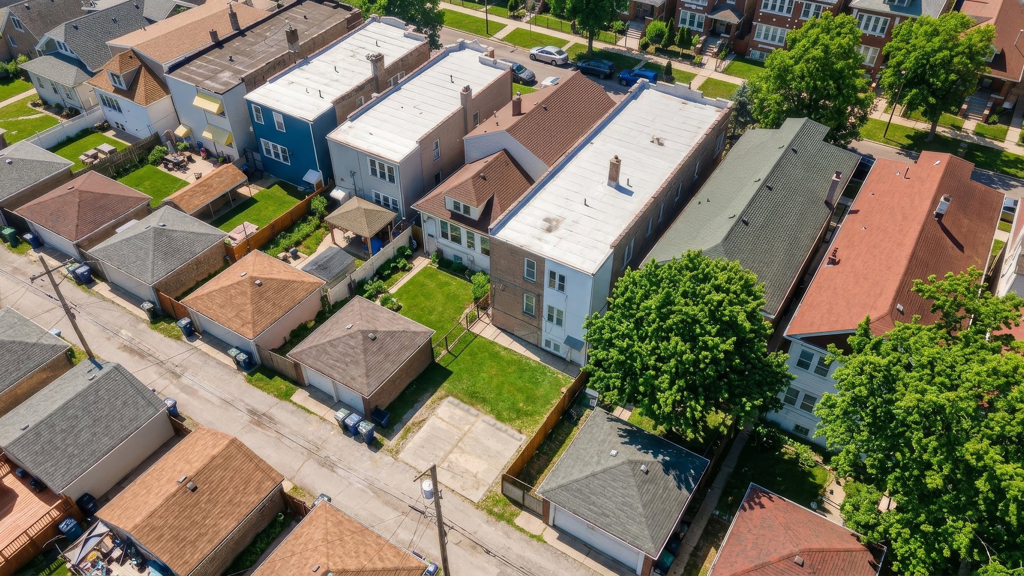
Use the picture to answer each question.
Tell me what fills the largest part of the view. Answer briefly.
buildings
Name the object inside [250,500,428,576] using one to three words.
building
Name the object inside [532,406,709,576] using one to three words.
building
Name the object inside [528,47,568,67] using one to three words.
car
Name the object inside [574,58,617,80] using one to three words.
car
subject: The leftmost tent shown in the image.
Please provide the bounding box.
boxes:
[55,517,116,576]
